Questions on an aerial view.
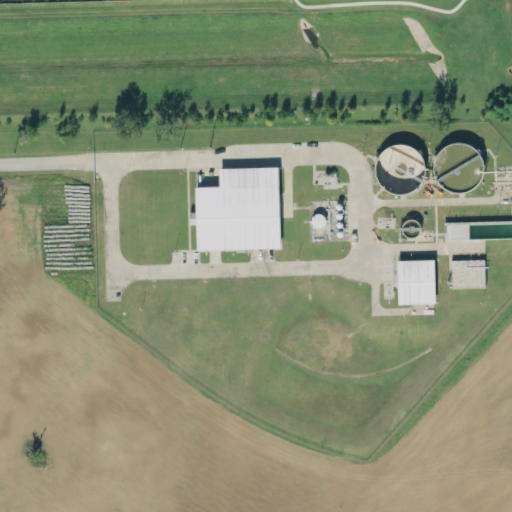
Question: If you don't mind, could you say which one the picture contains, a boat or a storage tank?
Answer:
storage tank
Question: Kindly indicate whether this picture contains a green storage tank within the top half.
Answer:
Yes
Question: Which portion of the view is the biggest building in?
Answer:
center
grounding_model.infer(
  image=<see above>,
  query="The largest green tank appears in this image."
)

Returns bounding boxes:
[434,142,484,194]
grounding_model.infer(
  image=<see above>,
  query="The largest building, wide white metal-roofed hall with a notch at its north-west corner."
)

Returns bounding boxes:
[191,168,282,252]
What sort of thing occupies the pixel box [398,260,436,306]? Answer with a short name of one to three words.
building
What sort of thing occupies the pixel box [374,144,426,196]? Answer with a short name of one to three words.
storage tank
